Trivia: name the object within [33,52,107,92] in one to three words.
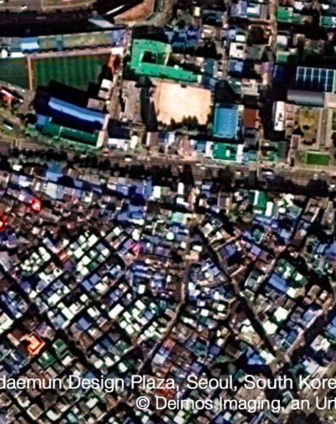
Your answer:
soccer field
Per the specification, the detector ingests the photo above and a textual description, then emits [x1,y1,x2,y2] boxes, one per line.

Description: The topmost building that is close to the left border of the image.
[0,29,130,57]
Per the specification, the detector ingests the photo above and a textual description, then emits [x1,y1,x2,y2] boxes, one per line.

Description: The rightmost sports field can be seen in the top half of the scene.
[153,80,211,125]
